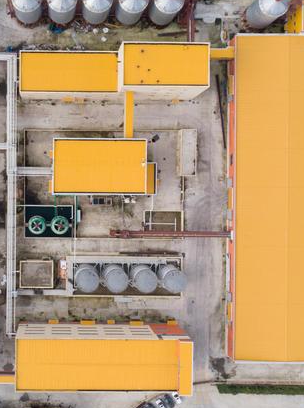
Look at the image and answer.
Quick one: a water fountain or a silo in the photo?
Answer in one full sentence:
Of the two, only a silo appears.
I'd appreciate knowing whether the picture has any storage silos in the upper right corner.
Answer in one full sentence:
Yes, a storage silo is visible in the upper right corner.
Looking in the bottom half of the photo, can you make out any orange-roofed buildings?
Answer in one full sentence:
Yes, the scene does show an orange-roofed building in the bottom half of the photo.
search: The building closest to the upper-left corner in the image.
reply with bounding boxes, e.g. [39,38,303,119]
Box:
[19,51,121,101]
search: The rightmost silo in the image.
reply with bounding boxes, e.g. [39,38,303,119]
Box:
[246,0,291,31]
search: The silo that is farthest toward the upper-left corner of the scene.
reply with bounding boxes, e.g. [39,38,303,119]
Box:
[11,0,46,26]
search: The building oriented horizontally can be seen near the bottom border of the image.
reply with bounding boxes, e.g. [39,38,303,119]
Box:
[16,318,194,396]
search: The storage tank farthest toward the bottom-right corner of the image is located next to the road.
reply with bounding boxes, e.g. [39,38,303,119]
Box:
[154,264,186,292]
